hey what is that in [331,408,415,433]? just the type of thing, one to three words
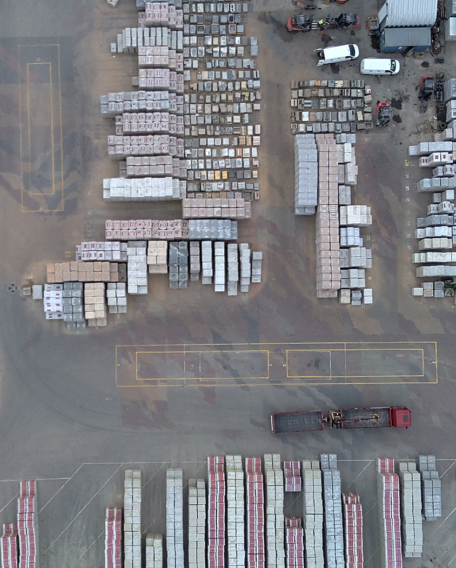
truck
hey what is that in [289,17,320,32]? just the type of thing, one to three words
work vehicle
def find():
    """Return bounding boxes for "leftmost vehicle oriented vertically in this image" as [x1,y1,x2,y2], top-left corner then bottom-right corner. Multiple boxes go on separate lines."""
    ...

[375,103,391,135]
